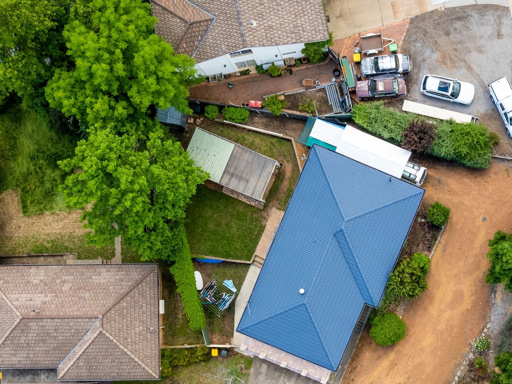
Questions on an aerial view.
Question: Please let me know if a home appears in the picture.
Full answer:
Yes, you can see a home in this photo.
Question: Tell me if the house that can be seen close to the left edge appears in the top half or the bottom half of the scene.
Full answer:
Seen from above, the house that can be seen close to the left edge lies in the bottom half of the view.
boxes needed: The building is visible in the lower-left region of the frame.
[0,262,170,384]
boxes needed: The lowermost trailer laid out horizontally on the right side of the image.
[404,95,479,122]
